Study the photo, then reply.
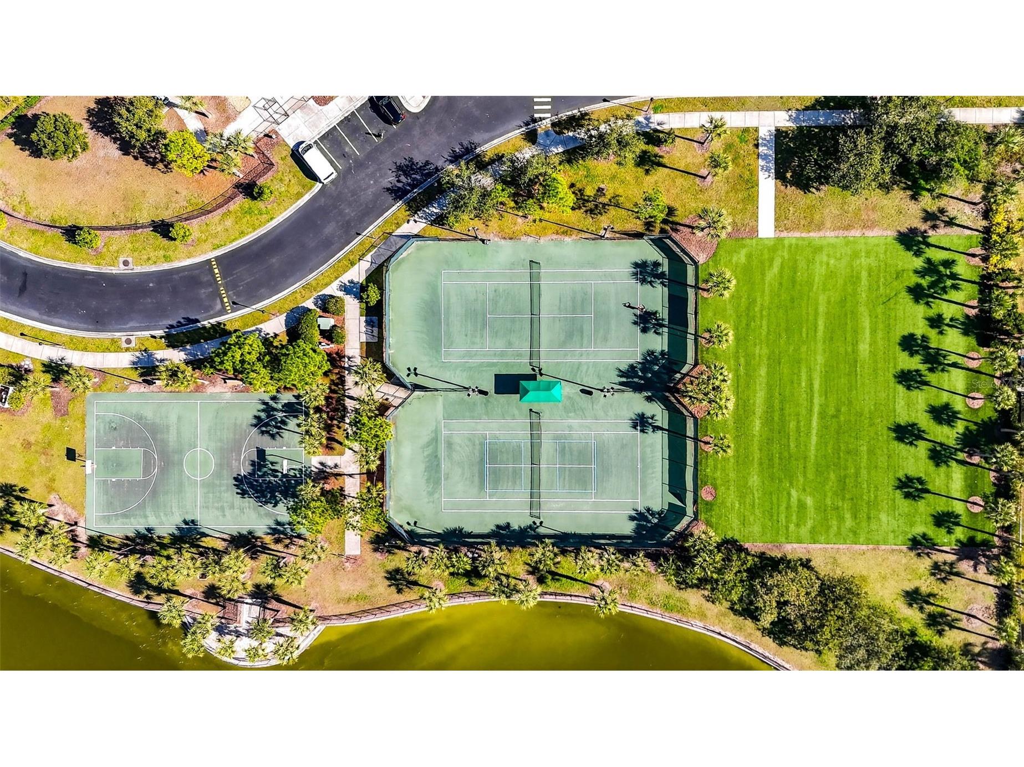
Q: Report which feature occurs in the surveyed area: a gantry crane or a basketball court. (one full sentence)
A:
Of the two, only a basketball court appears.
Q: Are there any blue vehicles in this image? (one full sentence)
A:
No, I find no blue vehicle anywhere in the image.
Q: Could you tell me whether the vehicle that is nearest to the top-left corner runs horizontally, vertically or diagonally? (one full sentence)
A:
From this overhead view, the vehicle that is nearest to the top-left corner appears to run diagonally.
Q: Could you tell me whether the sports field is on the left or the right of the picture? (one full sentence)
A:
It is on the right.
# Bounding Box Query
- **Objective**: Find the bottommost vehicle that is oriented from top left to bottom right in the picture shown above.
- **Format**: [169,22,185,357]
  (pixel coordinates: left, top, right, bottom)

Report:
[303,144,338,187]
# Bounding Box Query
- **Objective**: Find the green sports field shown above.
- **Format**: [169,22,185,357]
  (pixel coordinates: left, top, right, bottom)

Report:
[695,234,995,550]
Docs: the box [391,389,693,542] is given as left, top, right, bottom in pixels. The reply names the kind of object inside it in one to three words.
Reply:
tennis court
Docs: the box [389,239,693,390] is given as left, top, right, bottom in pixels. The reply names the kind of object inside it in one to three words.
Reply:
tennis court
